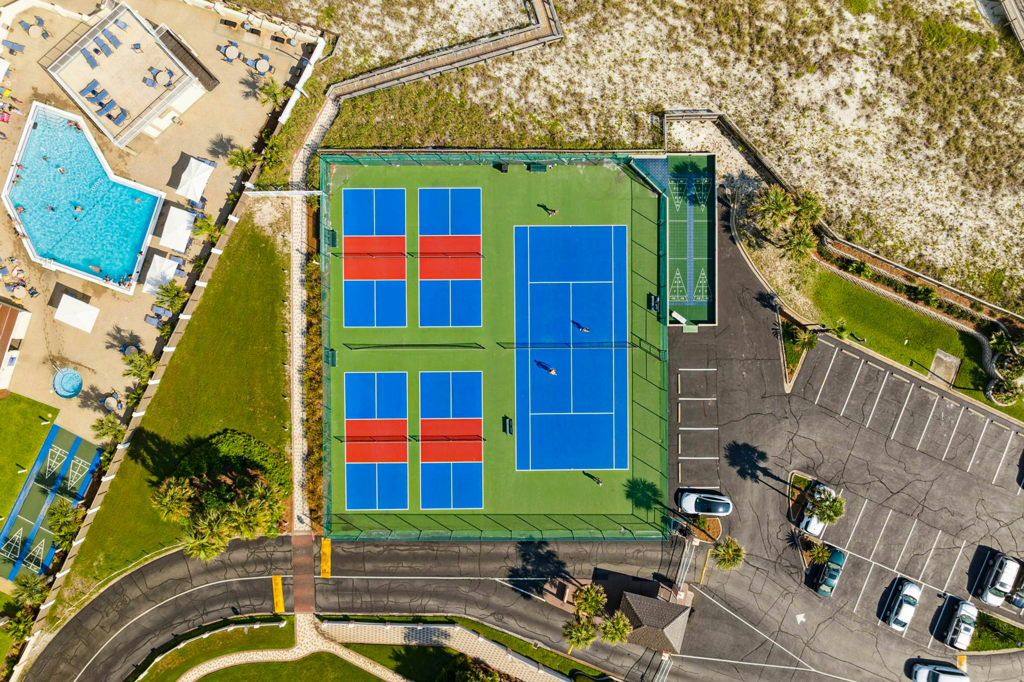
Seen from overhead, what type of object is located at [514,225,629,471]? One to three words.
tennis court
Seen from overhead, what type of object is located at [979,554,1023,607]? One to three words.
car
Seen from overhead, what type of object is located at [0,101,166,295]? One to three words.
swimming pool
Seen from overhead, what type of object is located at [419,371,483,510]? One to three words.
sports court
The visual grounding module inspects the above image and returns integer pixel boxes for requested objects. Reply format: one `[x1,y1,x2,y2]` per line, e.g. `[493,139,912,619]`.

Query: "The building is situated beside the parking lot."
[615,590,691,655]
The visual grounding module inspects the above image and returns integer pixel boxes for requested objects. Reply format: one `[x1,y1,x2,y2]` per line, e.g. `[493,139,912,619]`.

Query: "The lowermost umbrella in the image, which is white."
[54,294,100,333]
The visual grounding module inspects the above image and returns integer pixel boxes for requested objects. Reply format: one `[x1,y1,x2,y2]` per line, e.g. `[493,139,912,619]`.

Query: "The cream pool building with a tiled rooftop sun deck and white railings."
[49,3,206,156]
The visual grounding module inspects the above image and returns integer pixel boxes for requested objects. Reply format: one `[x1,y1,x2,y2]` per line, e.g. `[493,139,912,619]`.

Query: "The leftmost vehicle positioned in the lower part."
[680,492,732,517]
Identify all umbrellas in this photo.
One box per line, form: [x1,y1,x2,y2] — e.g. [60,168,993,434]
[176,157,214,203]
[142,255,179,295]
[0,60,13,85]
[54,294,100,333]
[159,206,196,253]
